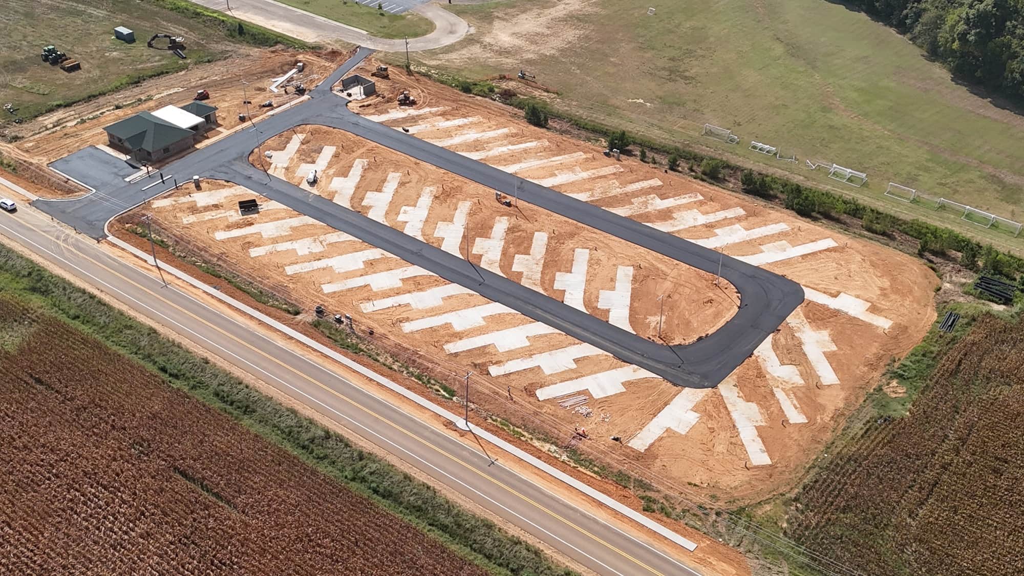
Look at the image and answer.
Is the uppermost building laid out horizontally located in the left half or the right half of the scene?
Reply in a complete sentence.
The uppermost building laid out horizontally appears in the left half of the scene.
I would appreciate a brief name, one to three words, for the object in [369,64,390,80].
work vehicle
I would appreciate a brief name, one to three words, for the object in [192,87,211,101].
work vehicle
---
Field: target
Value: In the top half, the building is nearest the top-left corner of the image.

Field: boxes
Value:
[101,100,219,162]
